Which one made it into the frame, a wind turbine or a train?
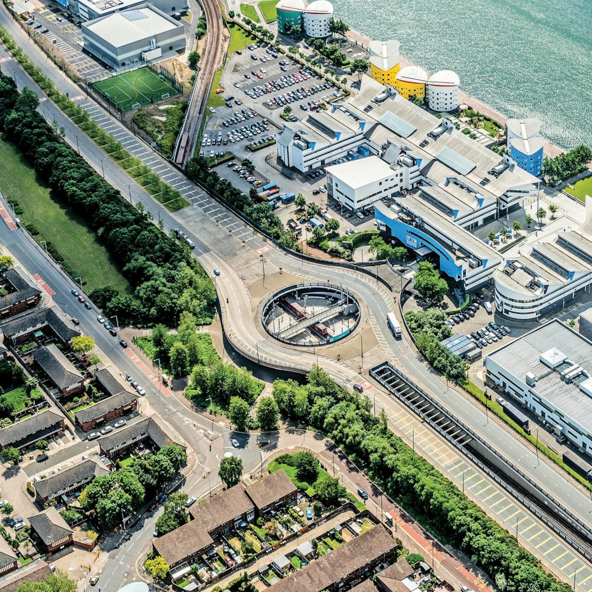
train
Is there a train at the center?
Yes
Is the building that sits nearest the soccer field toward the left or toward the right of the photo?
left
